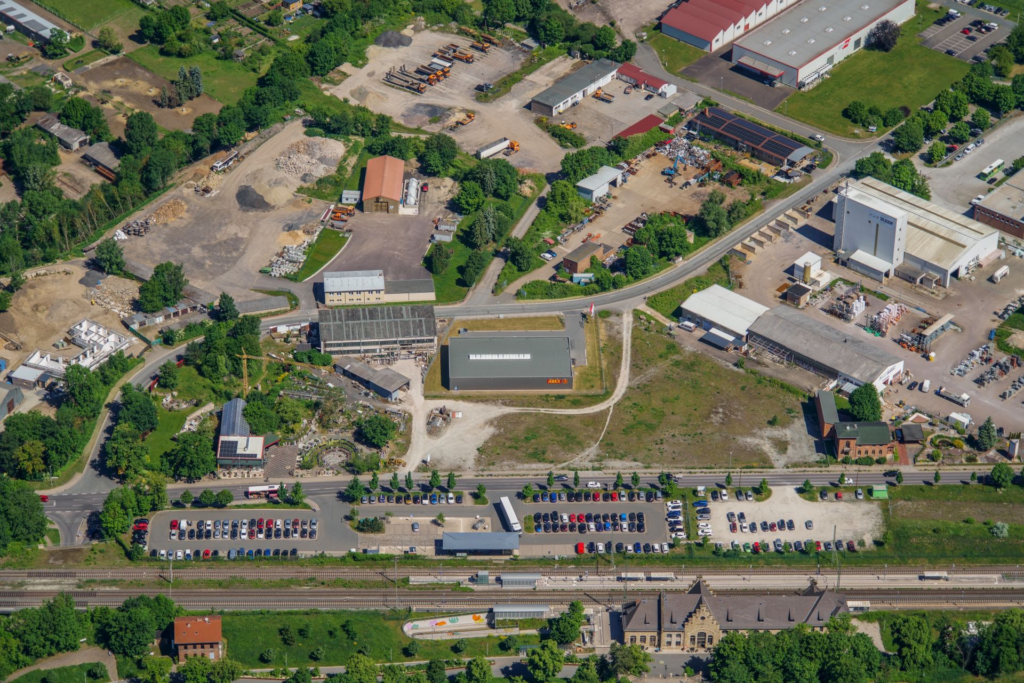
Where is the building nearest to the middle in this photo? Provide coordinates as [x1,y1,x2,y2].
[440,336,582,391]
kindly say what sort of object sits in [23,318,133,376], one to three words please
house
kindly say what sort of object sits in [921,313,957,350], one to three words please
building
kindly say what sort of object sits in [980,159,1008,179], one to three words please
bus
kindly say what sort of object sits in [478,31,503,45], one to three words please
vehicle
